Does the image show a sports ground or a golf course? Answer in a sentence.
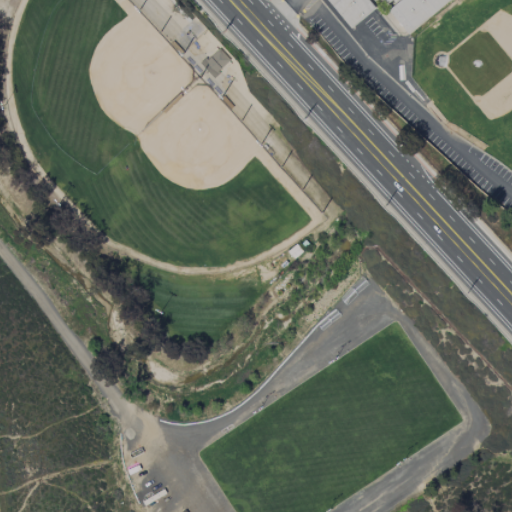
The picture captures a sports ground.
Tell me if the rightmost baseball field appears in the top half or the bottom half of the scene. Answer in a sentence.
You can find the rightmost baseball field in the top half.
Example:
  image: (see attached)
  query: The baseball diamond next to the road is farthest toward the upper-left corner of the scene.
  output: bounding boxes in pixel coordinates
[12,0,200,202]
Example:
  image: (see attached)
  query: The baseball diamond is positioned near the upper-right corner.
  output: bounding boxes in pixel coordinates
[415,0,512,164]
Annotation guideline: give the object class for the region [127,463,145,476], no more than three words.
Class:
vehicle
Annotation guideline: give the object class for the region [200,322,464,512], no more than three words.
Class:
soccer field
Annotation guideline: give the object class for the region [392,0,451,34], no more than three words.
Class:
building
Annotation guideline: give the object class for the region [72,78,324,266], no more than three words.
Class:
baseball field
